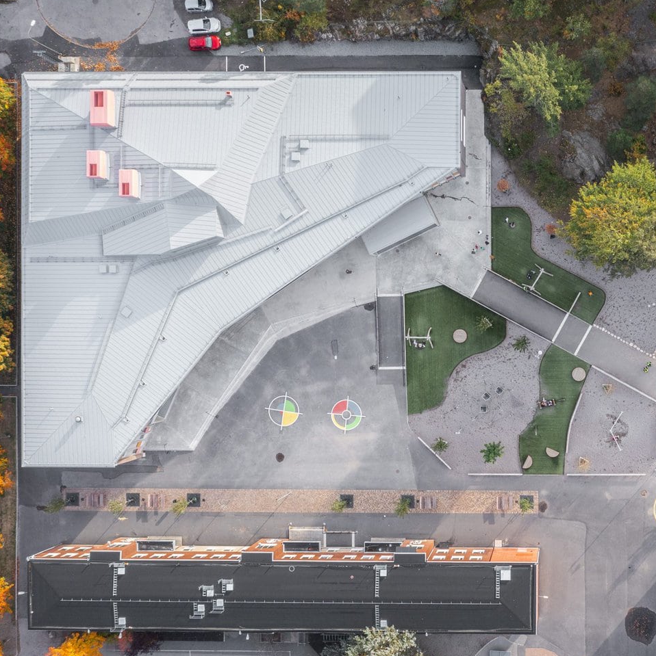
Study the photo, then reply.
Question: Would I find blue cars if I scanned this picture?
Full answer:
No, no blue car is visible in the scene.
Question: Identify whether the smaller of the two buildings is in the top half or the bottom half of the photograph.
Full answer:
It is in the bottom half that the smaller of the two buildings appears.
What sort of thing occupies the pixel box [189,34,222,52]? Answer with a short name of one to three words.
car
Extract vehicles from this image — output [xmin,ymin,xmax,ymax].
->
[189,34,222,52]
[184,0,215,13]
[188,17,221,35]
